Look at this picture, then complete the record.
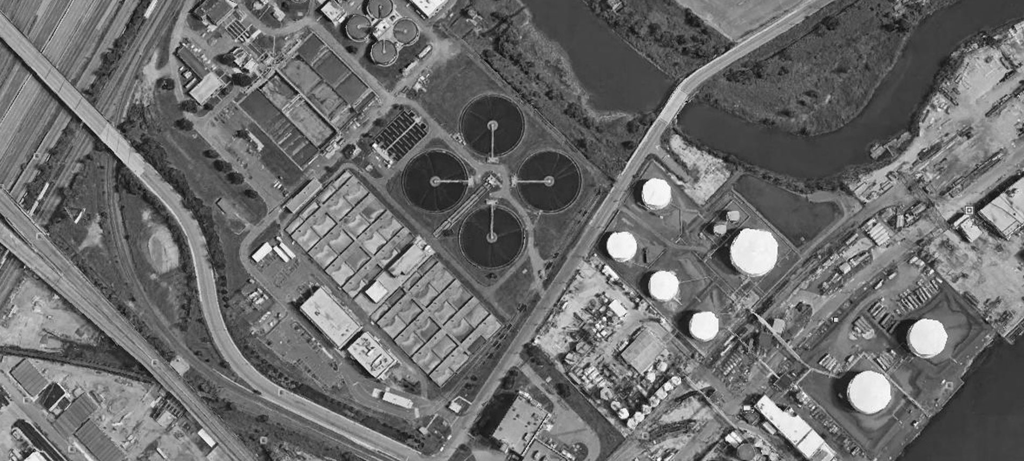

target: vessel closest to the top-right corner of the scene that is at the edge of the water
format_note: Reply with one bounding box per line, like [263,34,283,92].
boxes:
[883,128,909,151]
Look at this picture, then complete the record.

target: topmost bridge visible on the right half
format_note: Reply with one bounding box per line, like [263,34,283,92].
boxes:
[657,74,712,120]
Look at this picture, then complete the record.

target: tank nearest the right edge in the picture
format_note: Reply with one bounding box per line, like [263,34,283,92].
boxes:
[905,318,948,360]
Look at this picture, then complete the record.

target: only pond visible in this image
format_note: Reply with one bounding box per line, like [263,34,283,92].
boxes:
[733,174,841,245]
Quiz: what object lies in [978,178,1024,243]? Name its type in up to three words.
hangar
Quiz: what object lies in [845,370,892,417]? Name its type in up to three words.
storage tank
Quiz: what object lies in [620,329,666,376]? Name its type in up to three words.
shed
